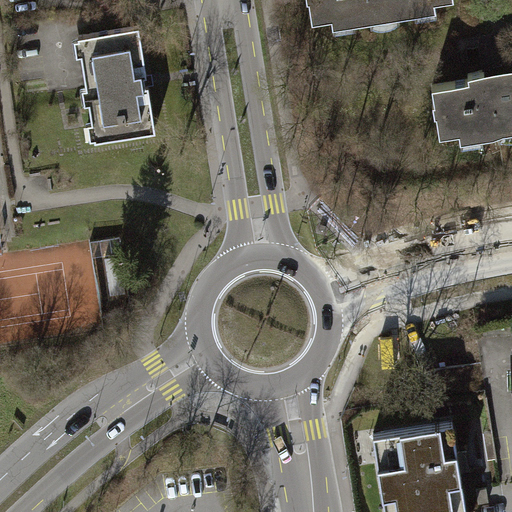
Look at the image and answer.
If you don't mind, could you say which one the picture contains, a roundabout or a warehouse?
roundabout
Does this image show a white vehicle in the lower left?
Yes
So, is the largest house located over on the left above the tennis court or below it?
above it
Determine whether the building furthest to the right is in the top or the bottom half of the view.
top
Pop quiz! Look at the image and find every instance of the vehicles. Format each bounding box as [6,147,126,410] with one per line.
[14,1,36,12]
[178,477,188,496]
[264,166,276,190]
[272,436,292,464]
[450,215,482,230]
[277,262,300,277]
[406,324,426,361]
[428,230,438,250]
[190,474,202,498]
[216,470,226,491]
[204,473,214,488]
[322,306,332,330]
[482,504,504,512]
[66,414,89,433]
[240,0,250,14]
[310,380,320,404]
[18,28,39,39]
[164,478,176,499]
[105,420,126,439]
[16,48,40,60]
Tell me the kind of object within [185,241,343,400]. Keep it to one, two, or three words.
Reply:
roundabout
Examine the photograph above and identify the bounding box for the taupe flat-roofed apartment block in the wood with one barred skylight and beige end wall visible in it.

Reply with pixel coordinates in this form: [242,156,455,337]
[430,65,512,154]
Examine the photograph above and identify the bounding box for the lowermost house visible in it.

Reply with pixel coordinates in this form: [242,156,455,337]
[372,420,465,512]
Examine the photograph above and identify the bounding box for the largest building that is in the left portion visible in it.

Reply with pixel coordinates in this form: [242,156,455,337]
[74,27,156,146]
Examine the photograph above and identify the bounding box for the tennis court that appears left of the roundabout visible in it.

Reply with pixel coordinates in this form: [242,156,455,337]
[0,240,102,344]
